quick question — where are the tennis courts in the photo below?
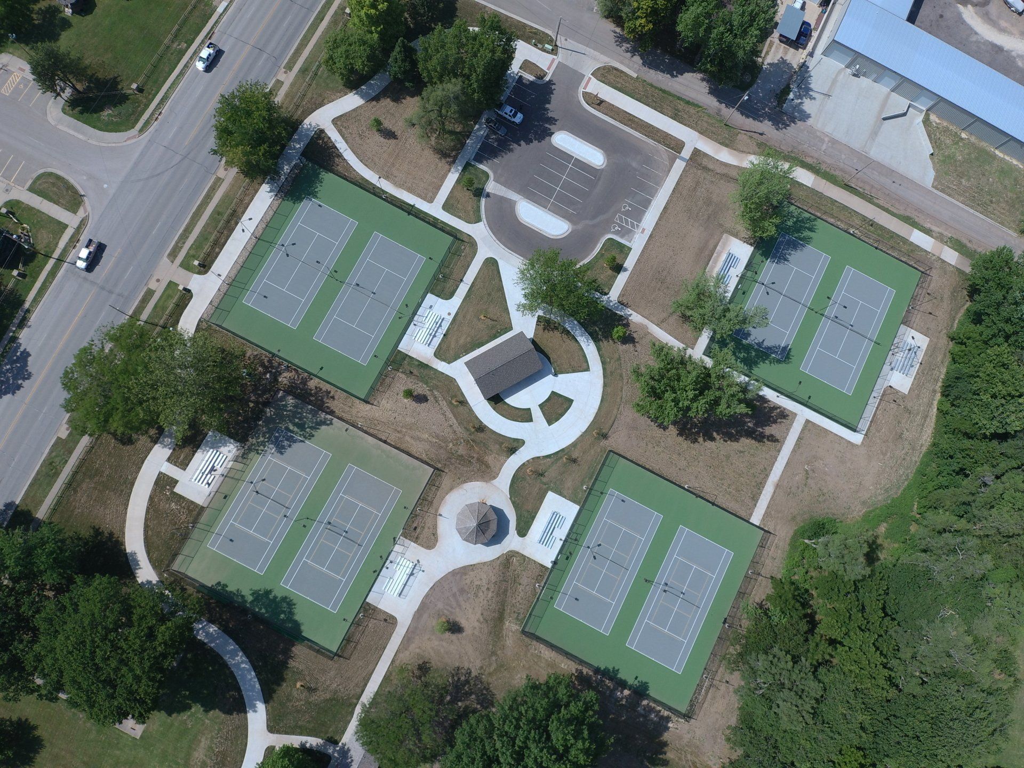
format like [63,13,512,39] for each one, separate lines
[281,464,402,614]
[626,525,734,674]
[801,266,896,395]
[313,231,426,365]
[208,426,331,575]
[554,489,663,636]
[733,232,830,360]
[243,196,358,329]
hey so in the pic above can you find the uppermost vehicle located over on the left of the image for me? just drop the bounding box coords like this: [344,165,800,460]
[193,41,219,70]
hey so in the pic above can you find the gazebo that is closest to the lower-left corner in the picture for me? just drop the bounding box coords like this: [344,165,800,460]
[455,501,498,546]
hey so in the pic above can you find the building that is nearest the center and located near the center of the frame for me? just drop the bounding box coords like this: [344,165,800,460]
[465,332,543,400]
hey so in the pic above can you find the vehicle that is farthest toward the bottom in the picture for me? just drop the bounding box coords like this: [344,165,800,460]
[74,238,100,271]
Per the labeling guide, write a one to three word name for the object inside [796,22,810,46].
car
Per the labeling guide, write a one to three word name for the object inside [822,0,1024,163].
building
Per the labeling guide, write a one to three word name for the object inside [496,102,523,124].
truck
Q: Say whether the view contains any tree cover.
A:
Yes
